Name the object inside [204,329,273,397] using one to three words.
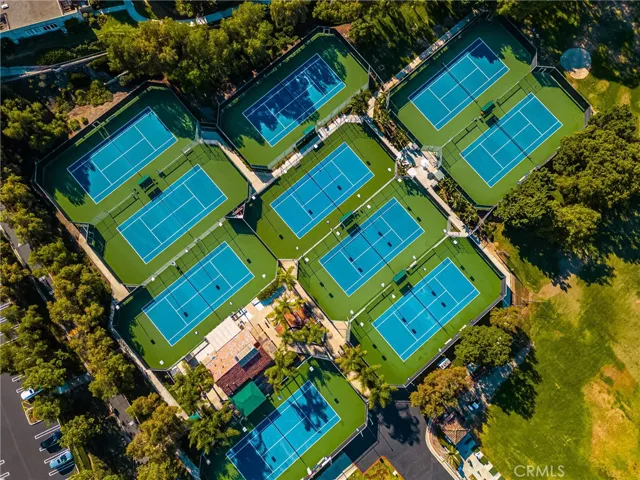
building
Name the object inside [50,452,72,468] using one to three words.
car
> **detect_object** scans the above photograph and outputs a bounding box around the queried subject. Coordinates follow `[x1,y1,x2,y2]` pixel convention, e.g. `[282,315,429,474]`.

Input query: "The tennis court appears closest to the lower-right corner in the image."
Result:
[350,238,501,385]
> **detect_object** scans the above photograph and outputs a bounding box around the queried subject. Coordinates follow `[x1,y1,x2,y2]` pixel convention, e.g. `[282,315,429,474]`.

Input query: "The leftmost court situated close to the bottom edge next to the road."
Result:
[203,359,366,480]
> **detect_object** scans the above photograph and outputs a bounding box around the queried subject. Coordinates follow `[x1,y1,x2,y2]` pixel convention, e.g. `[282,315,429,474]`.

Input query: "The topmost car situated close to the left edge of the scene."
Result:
[20,385,43,398]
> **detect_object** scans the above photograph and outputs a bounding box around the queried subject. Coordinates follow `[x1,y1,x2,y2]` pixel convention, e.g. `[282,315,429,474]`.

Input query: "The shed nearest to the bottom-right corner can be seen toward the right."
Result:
[441,419,469,444]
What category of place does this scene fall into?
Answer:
sports ground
